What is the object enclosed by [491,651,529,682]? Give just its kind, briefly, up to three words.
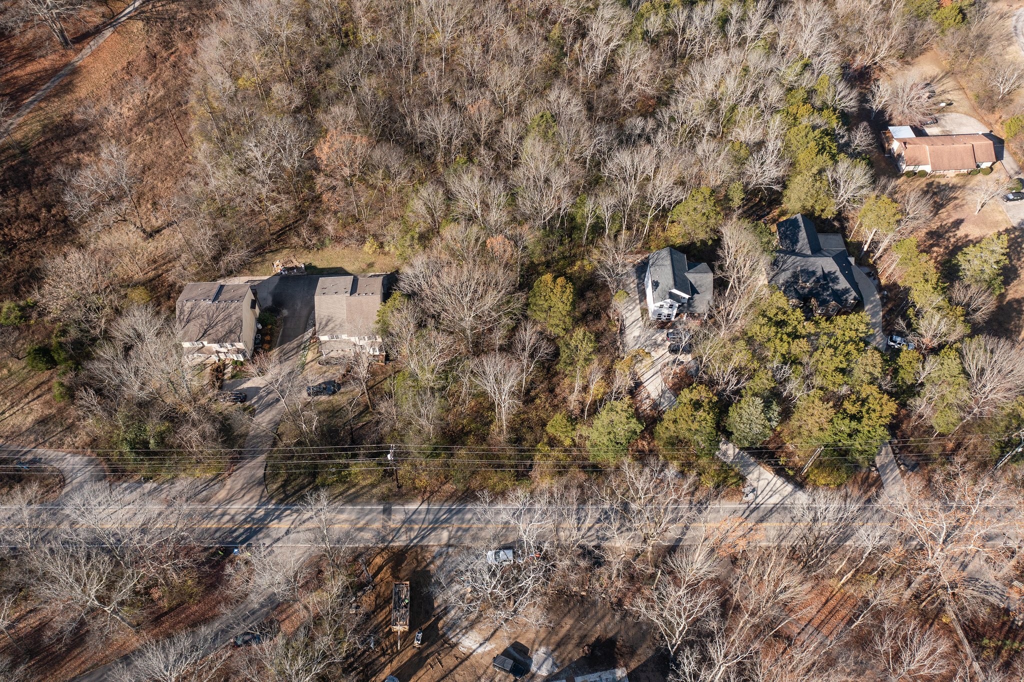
car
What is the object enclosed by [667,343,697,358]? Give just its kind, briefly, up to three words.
car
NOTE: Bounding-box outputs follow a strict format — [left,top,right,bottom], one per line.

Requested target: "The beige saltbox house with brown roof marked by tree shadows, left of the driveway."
[175,277,269,373]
